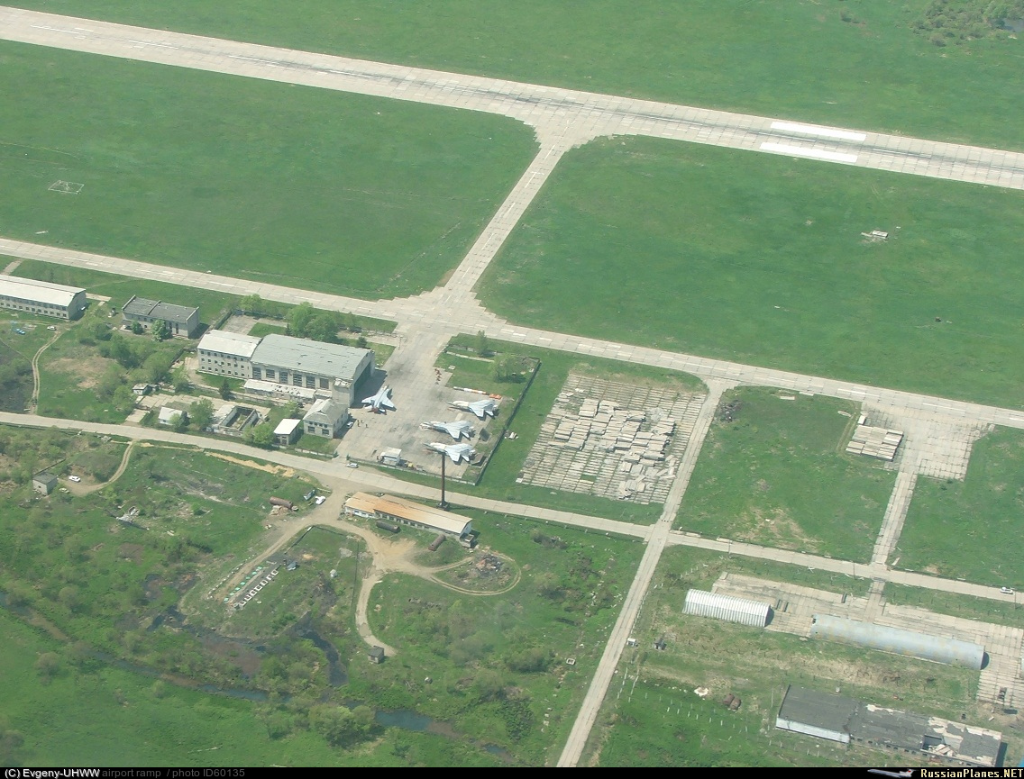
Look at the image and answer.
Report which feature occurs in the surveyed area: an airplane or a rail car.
airplane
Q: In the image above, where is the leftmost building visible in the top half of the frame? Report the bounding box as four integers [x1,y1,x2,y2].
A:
[0,277,83,319]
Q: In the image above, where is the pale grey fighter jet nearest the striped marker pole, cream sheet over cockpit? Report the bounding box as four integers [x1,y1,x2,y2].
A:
[458,395,499,414]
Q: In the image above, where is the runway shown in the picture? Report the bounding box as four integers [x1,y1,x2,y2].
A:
[0,5,1024,189]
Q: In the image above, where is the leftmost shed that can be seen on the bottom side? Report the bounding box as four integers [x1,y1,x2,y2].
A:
[32,469,60,494]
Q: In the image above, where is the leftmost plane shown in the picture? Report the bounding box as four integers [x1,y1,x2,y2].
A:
[361,383,396,412]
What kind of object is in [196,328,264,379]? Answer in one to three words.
building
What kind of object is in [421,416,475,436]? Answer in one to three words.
airplane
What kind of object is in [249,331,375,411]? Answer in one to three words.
hangar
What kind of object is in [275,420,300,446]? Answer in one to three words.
shed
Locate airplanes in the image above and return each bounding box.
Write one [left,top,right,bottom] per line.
[435,438,478,459]
[458,395,499,414]
[361,383,396,412]
[421,416,475,436]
